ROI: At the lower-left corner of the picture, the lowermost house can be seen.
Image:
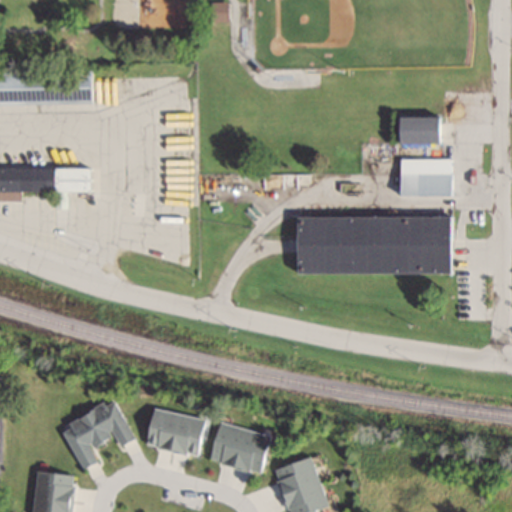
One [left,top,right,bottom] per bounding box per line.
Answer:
[32,472,76,512]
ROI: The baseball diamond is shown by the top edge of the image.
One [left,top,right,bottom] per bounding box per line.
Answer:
[240,0,355,74]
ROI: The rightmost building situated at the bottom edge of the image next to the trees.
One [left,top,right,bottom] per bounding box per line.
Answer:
[276,457,330,512]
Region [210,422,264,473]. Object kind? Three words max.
house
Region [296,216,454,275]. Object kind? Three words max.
building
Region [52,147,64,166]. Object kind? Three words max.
vehicle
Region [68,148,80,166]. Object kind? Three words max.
vehicle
